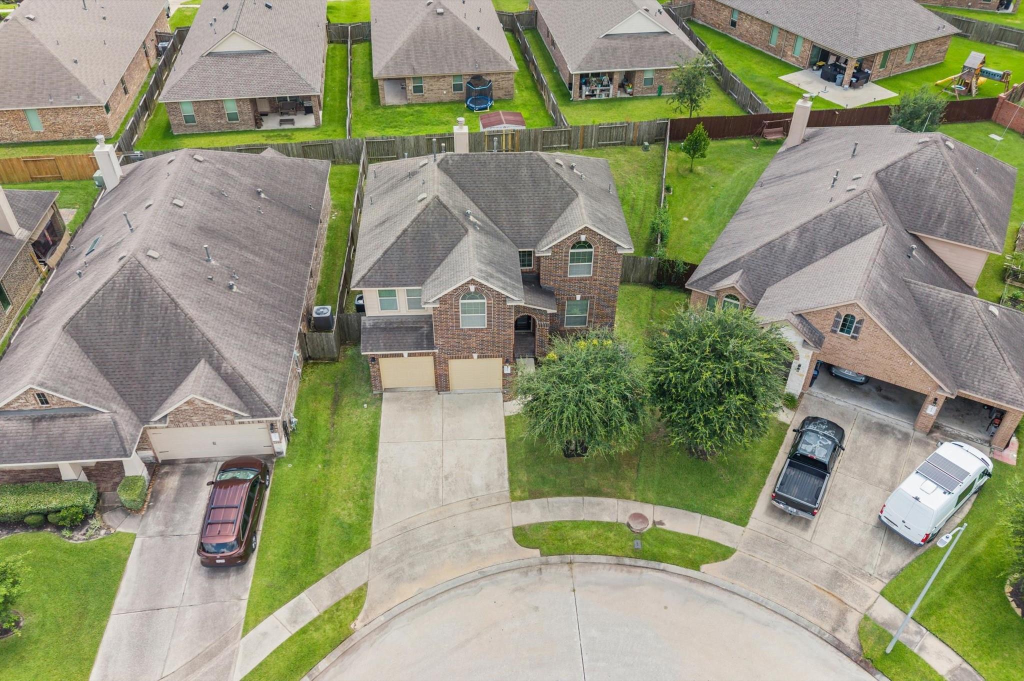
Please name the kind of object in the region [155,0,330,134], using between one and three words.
house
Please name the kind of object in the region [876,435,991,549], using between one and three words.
van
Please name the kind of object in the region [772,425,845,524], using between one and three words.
truck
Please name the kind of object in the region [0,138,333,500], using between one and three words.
house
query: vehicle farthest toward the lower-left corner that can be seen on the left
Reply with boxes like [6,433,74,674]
[199,454,272,567]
